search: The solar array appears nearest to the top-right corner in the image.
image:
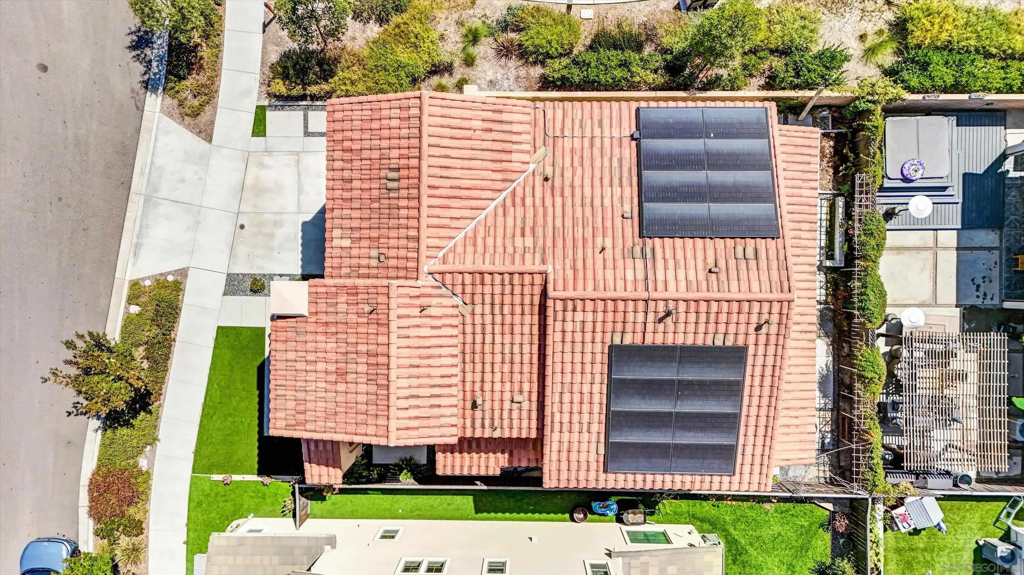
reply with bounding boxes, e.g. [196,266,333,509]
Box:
[636,107,781,238]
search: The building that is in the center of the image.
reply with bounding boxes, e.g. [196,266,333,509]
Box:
[268,87,823,495]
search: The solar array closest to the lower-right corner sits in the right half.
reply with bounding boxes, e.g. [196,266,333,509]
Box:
[603,343,748,475]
